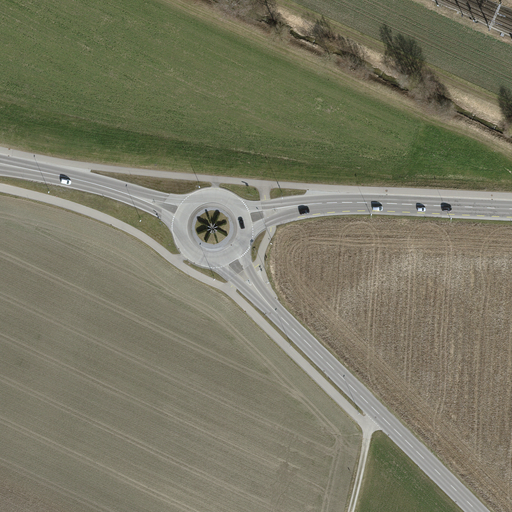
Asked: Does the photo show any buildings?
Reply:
No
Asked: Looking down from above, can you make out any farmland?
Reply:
Yes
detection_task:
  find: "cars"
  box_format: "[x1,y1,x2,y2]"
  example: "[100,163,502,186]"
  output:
[60,179,72,185]
[239,218,245,230]
[416,207,426,212]
[442,207,453,212]
[299,208,310,214]
[372,206,383,211]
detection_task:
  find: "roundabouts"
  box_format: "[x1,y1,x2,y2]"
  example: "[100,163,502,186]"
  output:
[161,187,267,272]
